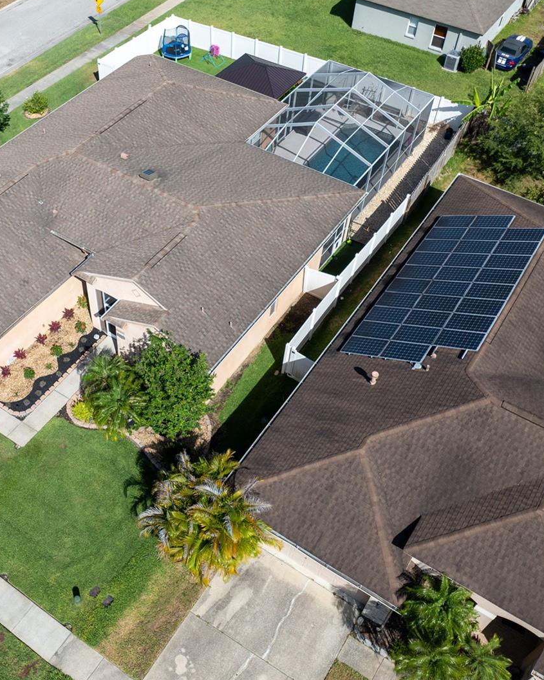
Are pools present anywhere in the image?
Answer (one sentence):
Yes, the image includes a pool.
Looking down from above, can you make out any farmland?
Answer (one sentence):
No, farmland can't be seen anywhere here.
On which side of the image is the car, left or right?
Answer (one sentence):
The car is on the right side of the image.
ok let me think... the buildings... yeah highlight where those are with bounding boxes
[0,53,369,396]
[211,173,544,680]
[352,0,527,64]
